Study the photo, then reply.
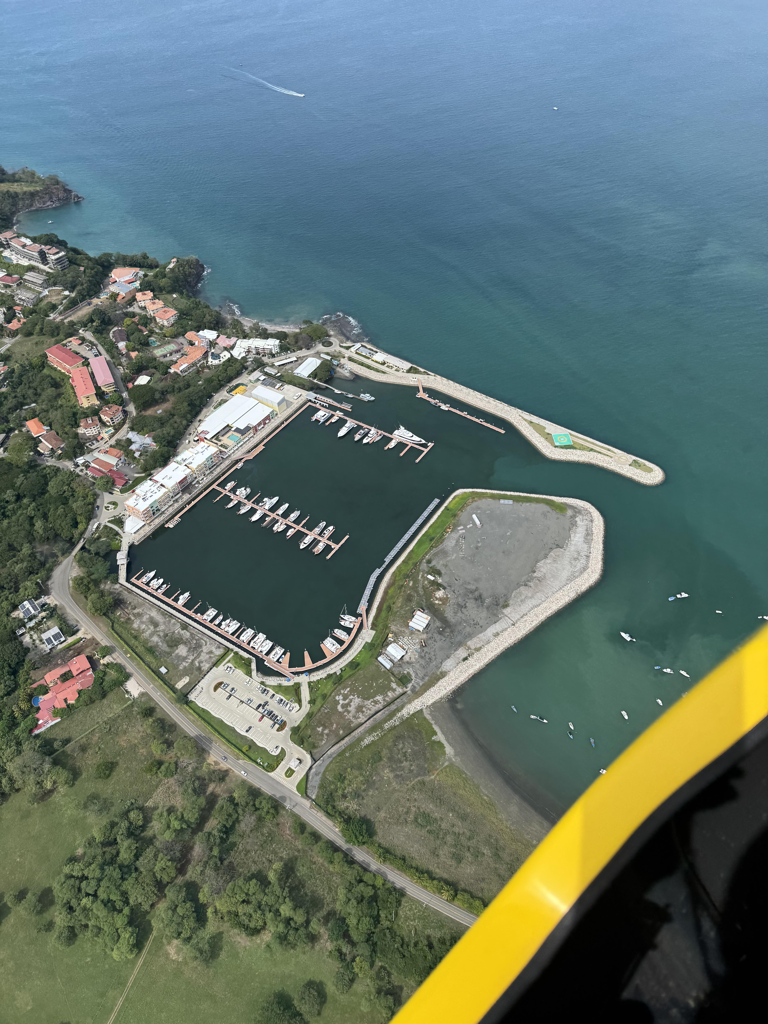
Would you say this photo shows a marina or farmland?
marina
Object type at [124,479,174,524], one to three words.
building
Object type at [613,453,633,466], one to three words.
helipad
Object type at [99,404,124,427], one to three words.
house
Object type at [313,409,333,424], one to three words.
boat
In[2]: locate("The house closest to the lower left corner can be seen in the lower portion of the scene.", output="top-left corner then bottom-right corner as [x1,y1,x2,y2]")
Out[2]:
[28,654,95,739]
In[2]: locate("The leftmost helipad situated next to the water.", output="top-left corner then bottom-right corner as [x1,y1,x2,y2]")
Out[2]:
[552,433,573,446]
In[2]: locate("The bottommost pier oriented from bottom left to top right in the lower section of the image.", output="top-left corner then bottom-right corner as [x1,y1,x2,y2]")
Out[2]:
[287,617,363,673]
